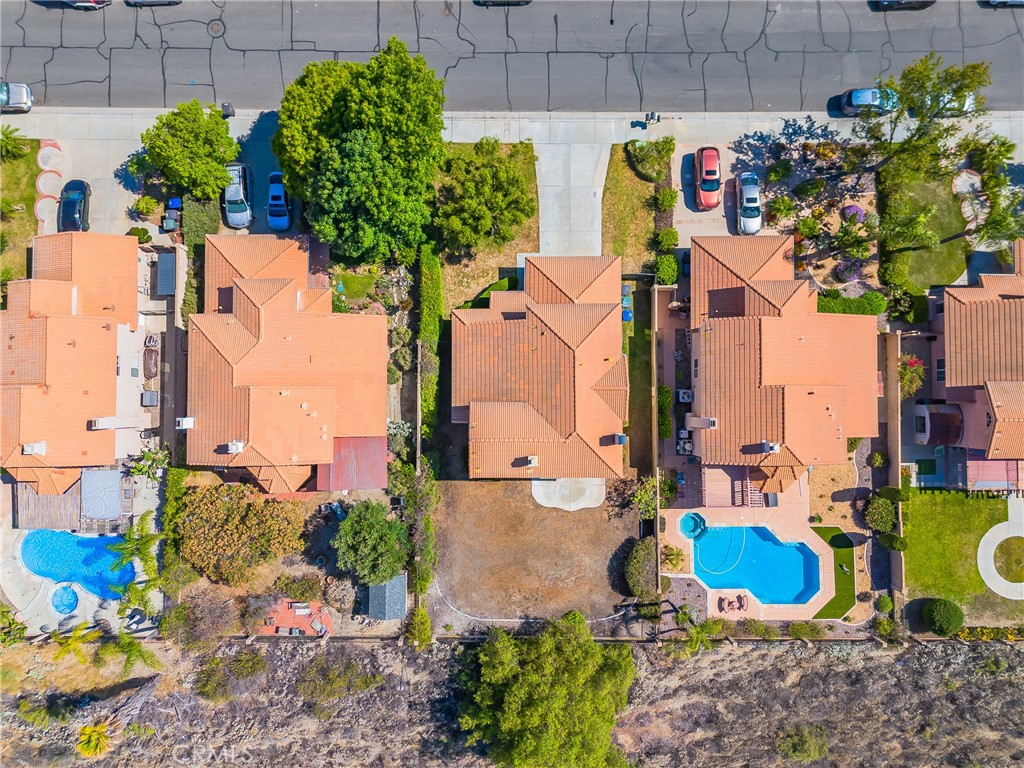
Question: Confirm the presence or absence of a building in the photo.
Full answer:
Yes, the photo shows a building.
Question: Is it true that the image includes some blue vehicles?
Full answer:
Yes, the photo shows a blue vehicle.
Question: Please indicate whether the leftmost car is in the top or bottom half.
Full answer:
The top half of the photo is where the leftmost car is.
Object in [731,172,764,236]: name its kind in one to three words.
car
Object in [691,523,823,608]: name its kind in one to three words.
swimming pool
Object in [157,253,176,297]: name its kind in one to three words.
shed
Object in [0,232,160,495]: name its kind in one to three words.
house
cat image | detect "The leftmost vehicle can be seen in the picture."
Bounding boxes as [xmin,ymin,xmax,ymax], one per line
[0,81,39,116]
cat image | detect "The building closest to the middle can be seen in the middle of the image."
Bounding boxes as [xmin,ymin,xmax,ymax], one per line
[451,255,629,480]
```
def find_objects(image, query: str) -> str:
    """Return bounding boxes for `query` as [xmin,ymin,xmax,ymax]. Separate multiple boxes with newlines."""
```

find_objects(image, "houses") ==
[173,233,388,494]
[930,239,1024,460]
[0,232,160,495]
[681,234,880,494]
[451,255,629,480]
